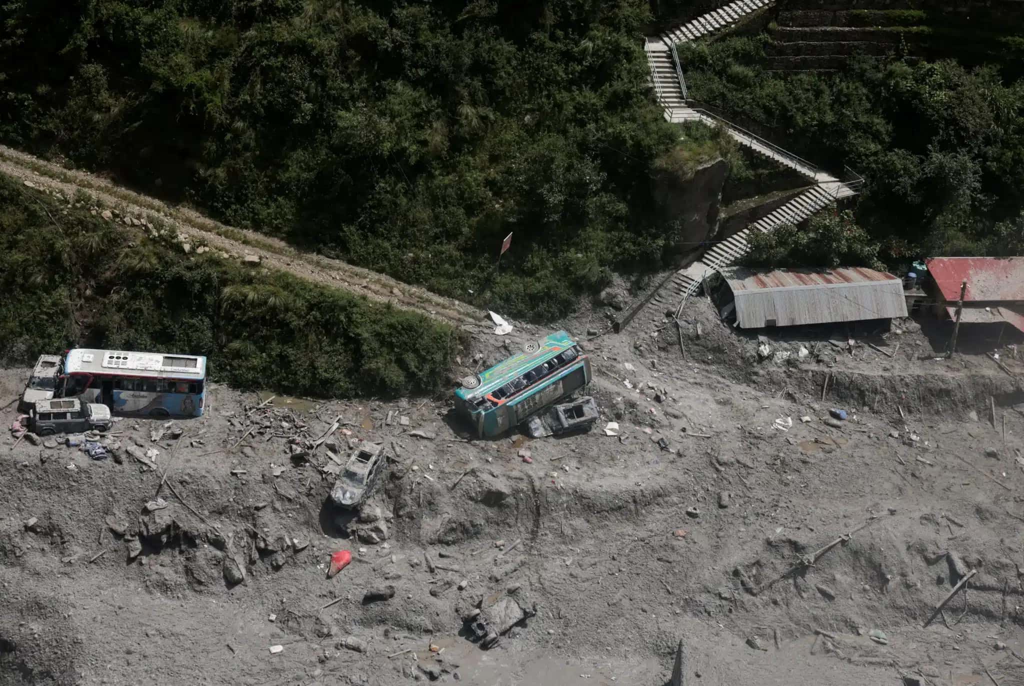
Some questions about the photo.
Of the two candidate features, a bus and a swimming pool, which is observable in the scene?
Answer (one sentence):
It is a bus that can be seen here.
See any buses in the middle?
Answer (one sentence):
Yes, I can see a bus in the middle.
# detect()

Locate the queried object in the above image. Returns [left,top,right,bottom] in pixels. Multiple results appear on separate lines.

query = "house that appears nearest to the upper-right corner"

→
[927,255,1024,342]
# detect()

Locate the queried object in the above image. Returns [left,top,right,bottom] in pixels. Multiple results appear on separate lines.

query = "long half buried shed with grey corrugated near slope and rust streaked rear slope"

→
[718,268,908,340]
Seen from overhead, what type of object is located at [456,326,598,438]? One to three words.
bus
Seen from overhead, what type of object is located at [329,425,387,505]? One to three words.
car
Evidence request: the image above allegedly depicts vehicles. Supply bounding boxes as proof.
[329,425,387,505]
[59,353,212,413]
[456,326,598,438]
[27,396,113,436]
[13,355,64,416]
[523,392,601,443]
